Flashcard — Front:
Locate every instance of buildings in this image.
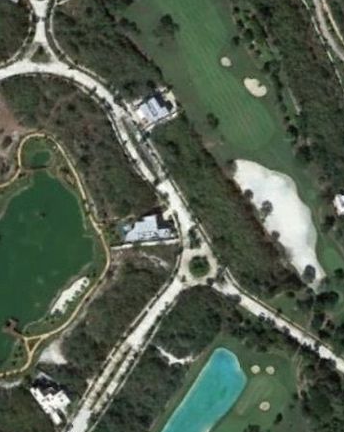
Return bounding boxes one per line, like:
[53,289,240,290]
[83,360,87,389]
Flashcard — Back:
[333,193,344,216]
[31,374,71,425]
[134,90,177,126]
[122,214,172,243]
